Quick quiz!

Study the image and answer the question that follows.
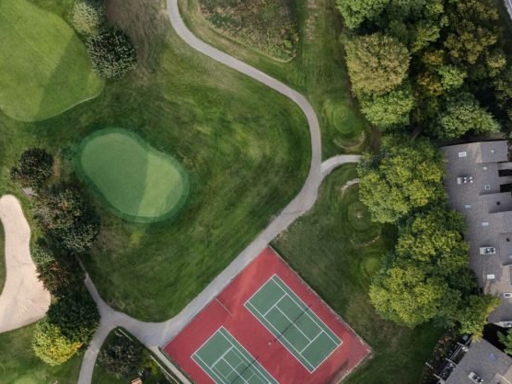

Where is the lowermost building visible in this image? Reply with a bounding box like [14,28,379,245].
[438,338,512,384]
